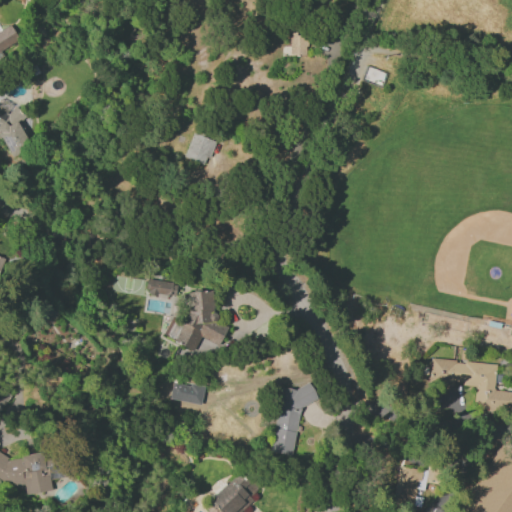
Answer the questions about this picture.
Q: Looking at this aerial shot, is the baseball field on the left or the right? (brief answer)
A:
right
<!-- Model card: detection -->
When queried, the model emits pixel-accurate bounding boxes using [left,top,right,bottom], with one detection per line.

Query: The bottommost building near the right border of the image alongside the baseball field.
[426,360,512,412]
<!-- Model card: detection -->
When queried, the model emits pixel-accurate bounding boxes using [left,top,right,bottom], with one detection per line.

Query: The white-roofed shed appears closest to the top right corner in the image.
[364,64,389,86]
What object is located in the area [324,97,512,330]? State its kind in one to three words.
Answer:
baseball field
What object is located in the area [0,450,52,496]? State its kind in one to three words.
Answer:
house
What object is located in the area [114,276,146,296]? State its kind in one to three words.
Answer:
basketball court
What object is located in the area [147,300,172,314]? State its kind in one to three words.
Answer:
swimming pool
